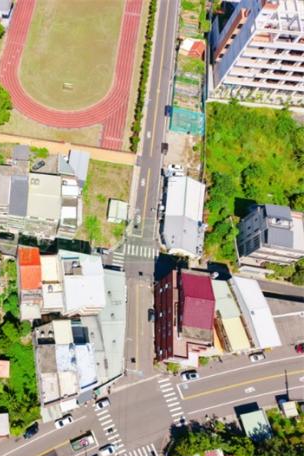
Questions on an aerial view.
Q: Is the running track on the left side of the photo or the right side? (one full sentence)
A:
The running track sits on the left side.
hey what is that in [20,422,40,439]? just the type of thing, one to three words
car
